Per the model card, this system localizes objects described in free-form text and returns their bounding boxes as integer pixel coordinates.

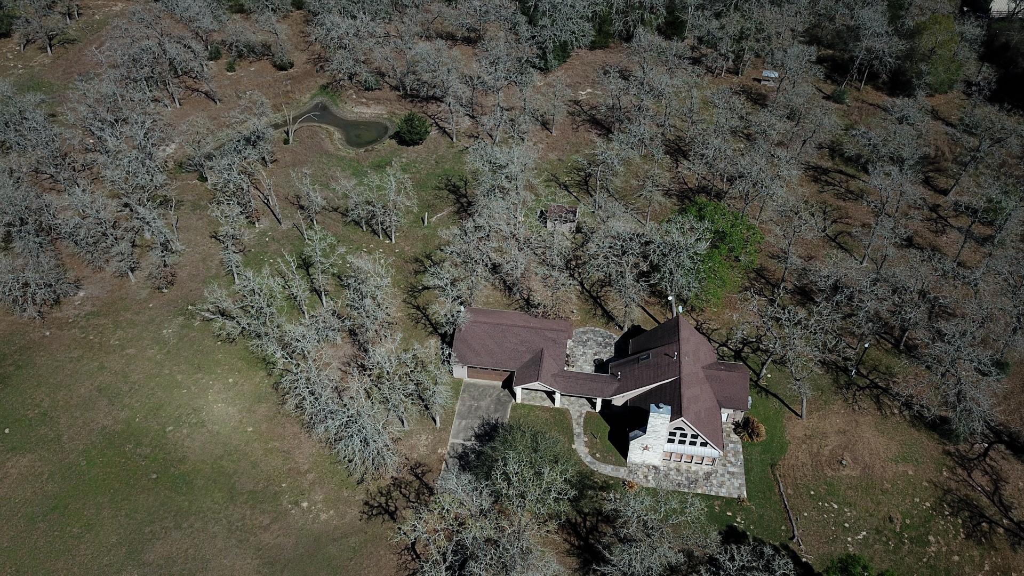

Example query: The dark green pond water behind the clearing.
[206,103,389,164]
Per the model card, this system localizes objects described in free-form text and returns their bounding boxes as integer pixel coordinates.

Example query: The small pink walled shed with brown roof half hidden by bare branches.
[546,197,580,229]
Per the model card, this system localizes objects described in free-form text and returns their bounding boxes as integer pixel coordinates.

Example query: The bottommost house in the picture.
[452,306,750,467]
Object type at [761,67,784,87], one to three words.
building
